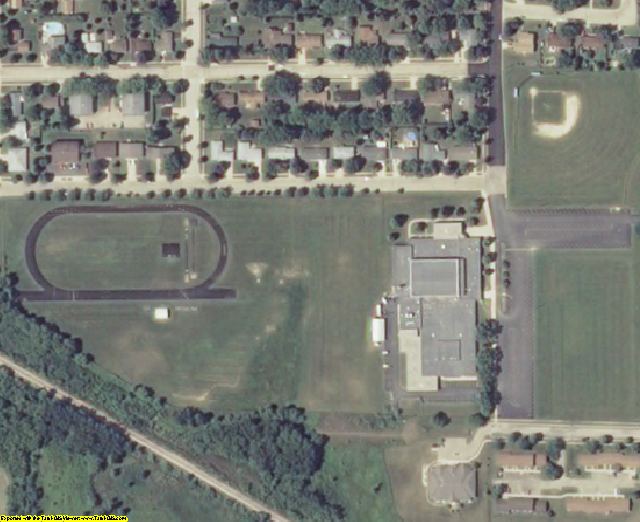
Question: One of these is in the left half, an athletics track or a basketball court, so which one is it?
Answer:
athletics track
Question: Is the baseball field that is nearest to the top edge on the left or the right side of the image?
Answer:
right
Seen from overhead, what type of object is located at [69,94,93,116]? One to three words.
house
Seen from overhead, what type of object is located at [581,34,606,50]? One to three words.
house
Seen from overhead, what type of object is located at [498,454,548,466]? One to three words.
building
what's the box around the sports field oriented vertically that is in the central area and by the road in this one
[303,200,383,408]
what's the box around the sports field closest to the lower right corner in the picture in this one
[536,251,640,416]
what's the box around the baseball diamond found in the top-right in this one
[511,70,640,205]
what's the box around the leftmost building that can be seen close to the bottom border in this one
[429,464,476,504]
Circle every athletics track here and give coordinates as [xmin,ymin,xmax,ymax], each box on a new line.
[20,206,237,300]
